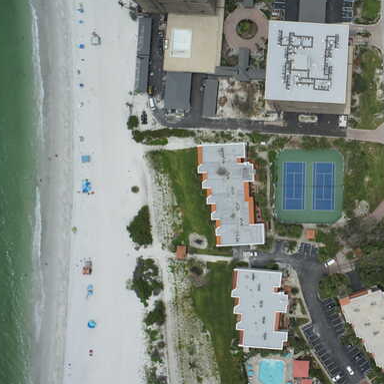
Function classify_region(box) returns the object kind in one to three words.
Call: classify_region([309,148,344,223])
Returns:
tennis court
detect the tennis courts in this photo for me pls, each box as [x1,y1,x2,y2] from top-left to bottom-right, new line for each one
[274,149,309,223]
[309,148,344,223]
